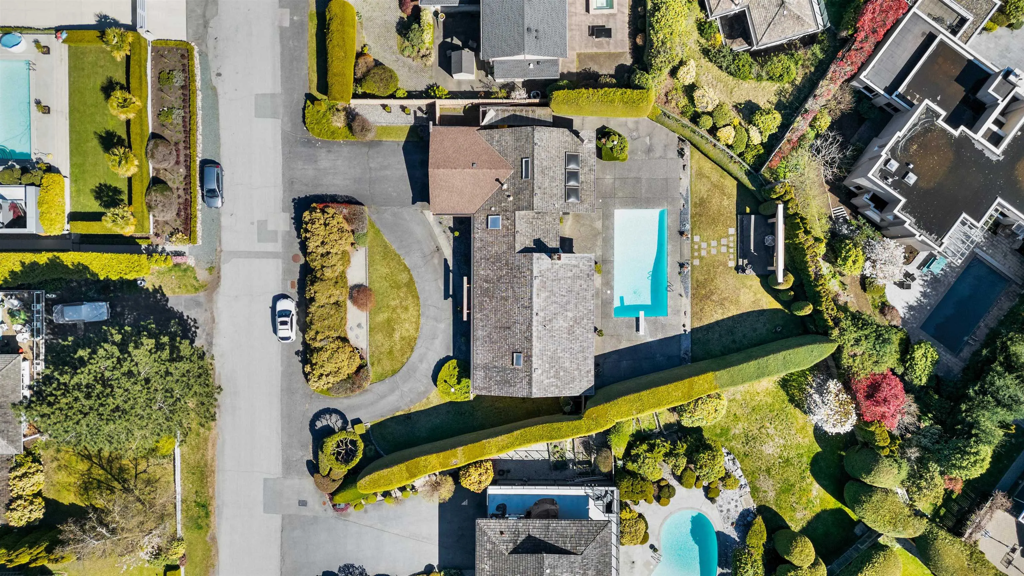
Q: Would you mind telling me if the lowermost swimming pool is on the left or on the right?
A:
right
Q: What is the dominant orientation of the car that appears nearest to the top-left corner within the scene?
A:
up and down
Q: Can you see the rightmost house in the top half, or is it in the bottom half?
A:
bottom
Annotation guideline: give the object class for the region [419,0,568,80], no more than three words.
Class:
house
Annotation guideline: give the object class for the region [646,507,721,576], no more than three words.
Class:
swimming pool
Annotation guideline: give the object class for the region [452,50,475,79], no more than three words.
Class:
shed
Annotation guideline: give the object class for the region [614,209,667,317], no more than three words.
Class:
swimming pool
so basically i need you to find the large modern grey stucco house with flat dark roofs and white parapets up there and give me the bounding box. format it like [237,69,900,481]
[835,0,1024,253]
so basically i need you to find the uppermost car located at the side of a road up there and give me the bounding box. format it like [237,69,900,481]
[201,162,225,209]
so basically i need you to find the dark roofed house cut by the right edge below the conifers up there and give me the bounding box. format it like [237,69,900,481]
[984,460,1024,540]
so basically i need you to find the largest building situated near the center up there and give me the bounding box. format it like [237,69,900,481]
[428,121,596,398]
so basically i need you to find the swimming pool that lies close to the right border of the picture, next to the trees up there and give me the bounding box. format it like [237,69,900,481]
[914,253,1014,362]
